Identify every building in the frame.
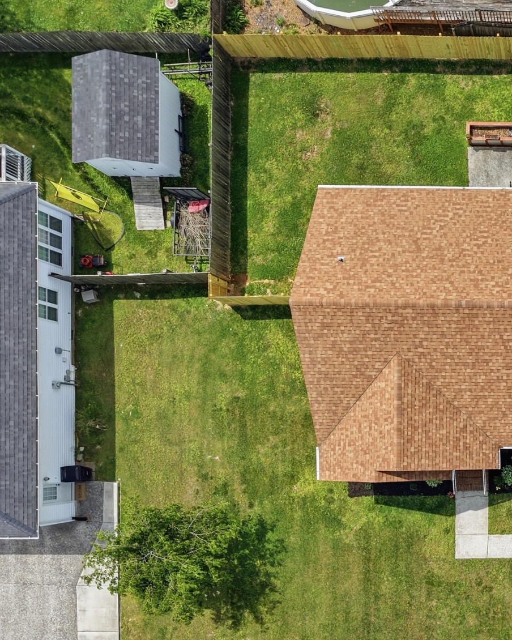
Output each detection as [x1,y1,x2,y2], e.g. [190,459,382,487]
[291,186,512,495]
[0,178,77,543]
[70,48,181,176]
